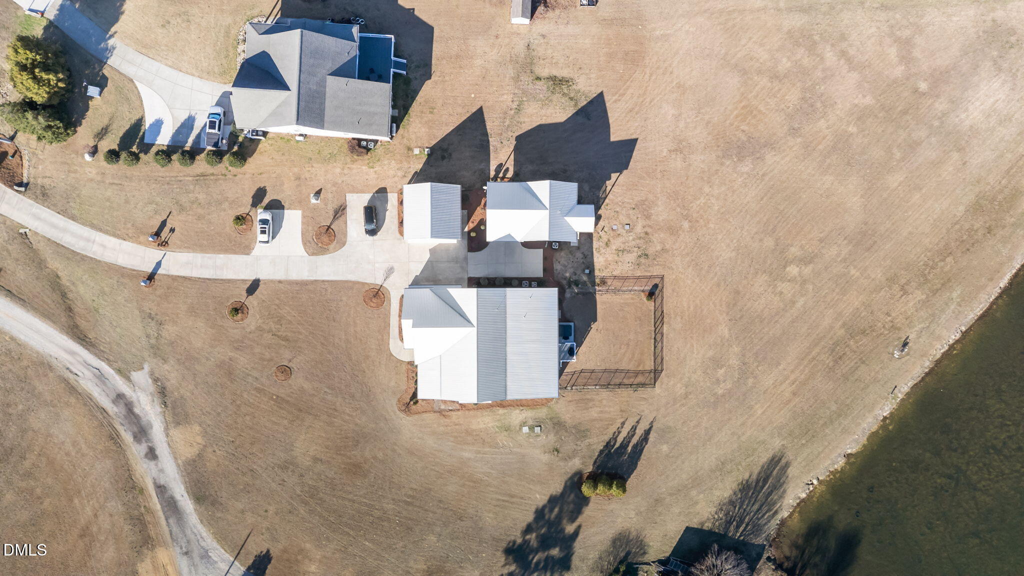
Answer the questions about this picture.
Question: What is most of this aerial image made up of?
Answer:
grass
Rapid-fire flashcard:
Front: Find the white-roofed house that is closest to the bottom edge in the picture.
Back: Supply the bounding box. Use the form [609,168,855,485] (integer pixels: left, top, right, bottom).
[401,284,576,403]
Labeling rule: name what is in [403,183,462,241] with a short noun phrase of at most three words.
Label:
building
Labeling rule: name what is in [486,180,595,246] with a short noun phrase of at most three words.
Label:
house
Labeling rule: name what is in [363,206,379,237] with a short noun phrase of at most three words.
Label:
car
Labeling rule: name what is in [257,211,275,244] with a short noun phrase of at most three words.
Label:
car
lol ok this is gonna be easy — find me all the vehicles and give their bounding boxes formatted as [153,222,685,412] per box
[206,107,225,149]
[363,206,379,237]
[257,211,275,244]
